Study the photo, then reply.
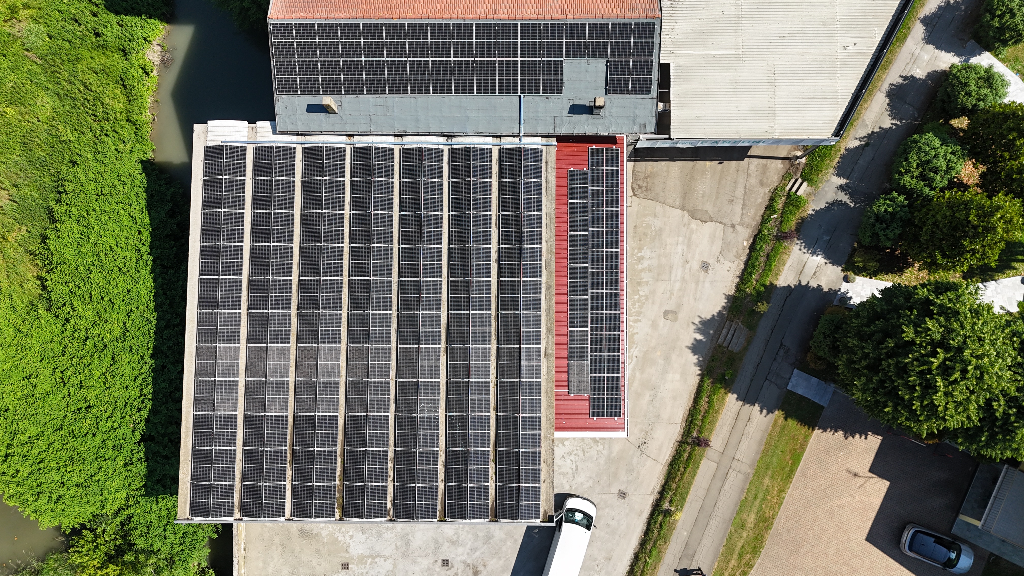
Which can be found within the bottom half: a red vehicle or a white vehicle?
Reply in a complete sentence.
The feature located within the bottom half is a white vehicle.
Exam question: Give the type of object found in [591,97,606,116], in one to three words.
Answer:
chimney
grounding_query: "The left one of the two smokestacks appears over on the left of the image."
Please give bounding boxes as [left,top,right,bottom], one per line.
[323,96,339,114]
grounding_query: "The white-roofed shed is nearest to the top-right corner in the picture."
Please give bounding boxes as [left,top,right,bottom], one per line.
[656,0,915,162]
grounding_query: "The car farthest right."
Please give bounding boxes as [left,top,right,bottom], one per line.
[895,523,973,573]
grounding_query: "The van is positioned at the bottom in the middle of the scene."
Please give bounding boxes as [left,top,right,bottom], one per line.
[543,492,597,576]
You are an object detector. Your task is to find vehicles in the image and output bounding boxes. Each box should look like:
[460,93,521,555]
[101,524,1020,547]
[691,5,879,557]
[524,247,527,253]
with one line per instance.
[543,492,597,576]
[895,523,973,573]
